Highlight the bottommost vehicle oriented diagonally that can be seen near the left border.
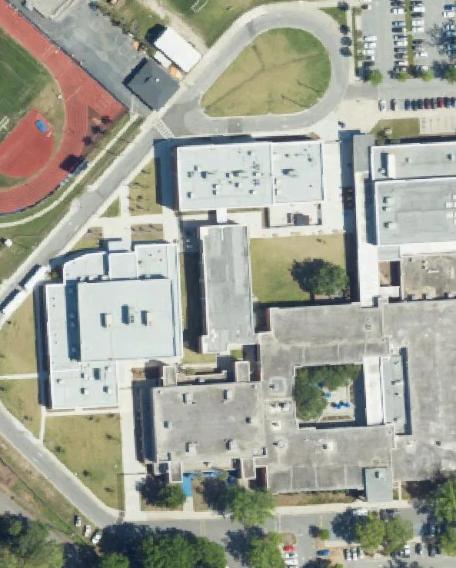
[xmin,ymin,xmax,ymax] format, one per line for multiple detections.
[0,289,26,316]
